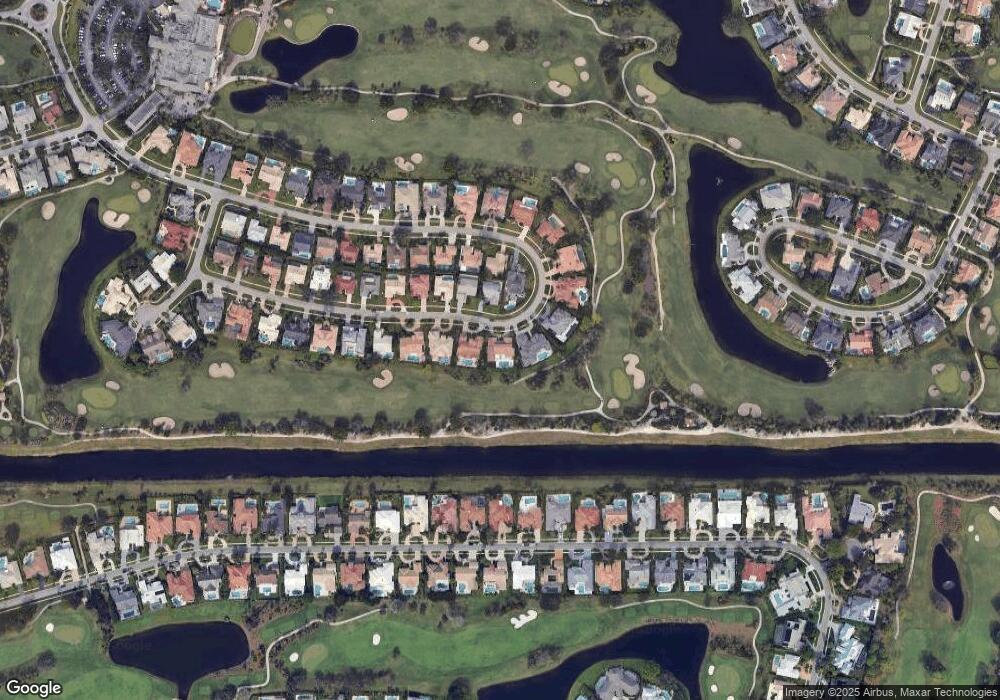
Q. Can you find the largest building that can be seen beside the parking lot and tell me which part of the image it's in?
top left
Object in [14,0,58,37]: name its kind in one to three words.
roundabout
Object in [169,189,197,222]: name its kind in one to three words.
house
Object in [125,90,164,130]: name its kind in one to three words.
barn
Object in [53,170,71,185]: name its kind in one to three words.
swimming pool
